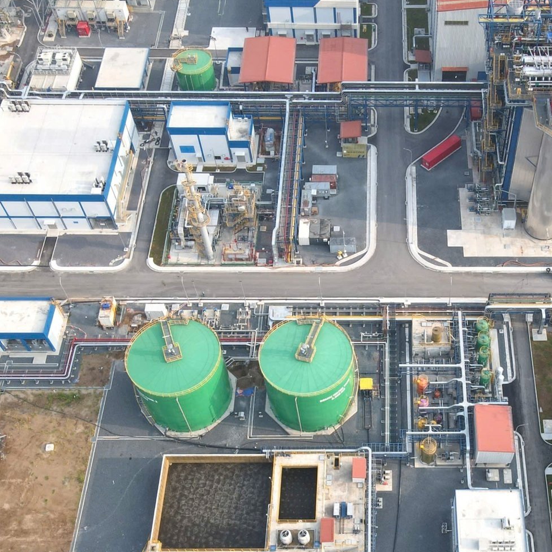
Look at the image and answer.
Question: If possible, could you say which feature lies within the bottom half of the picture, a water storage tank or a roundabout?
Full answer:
There is a water storage tank within the bottom half of the picture.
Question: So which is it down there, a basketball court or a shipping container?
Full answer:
I can see a shipping container in this picture.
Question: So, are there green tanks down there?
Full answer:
Yes, looking at the shot, I can spot a green tank.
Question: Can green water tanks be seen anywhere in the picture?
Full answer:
Yes, a green water tank is visible in the scene.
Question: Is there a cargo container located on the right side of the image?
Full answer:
Yes, the scene does show a cargo container on the right side of the image.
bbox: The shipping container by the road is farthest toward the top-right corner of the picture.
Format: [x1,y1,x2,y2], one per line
[421,134,462,171]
